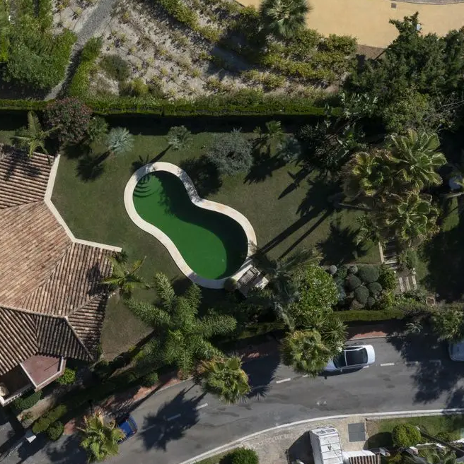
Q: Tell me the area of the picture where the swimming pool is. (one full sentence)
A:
The swimming pool is in the center part of the image.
